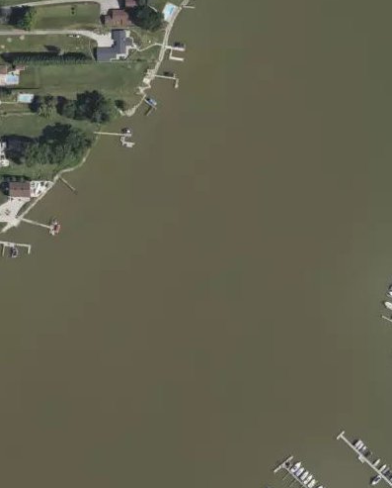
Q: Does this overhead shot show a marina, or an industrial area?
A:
marina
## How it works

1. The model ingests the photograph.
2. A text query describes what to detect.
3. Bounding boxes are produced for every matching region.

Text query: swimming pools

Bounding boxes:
[17,94,34,103]
[163,1,177,19]
[5,74,19,85]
